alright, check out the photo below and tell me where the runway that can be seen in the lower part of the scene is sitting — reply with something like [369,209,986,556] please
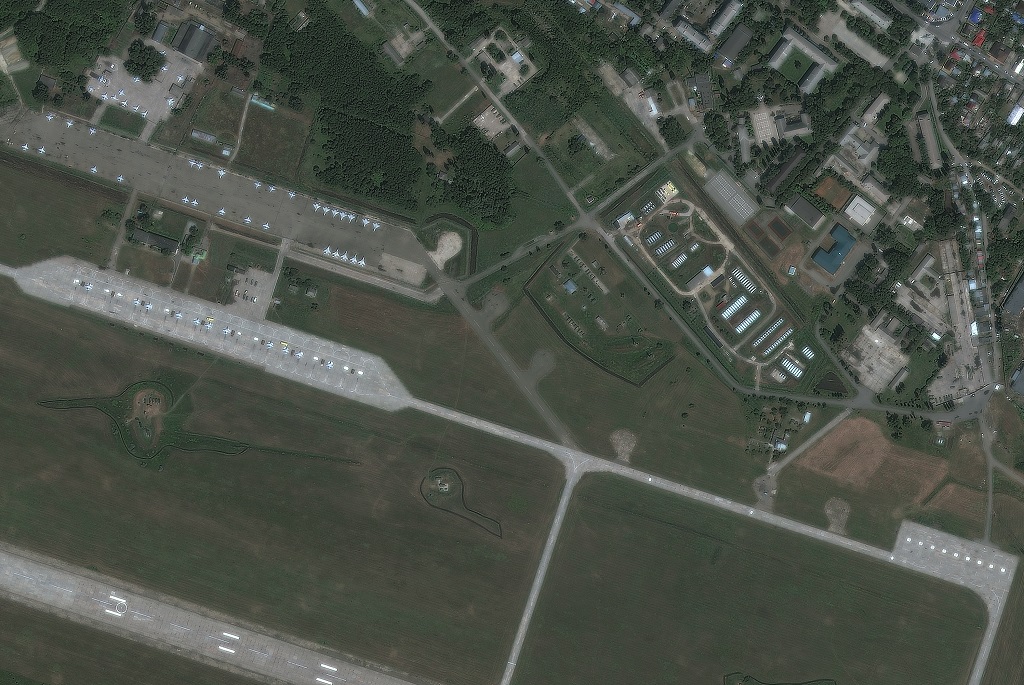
[0,551,417,685]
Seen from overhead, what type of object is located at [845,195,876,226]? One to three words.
building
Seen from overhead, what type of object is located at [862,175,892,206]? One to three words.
building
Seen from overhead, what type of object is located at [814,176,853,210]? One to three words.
sports court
